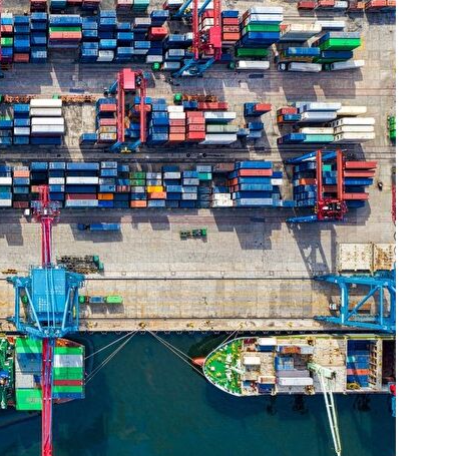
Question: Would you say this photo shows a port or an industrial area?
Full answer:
The picture captures a port.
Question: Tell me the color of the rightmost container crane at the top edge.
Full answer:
In this view, the rightmost container crane at the top edge is red.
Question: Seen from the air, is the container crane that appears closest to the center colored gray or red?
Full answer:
In this view, the container crane that appears closest to the center is red.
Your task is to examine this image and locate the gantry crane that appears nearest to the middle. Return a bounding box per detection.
[282,151,345,224]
